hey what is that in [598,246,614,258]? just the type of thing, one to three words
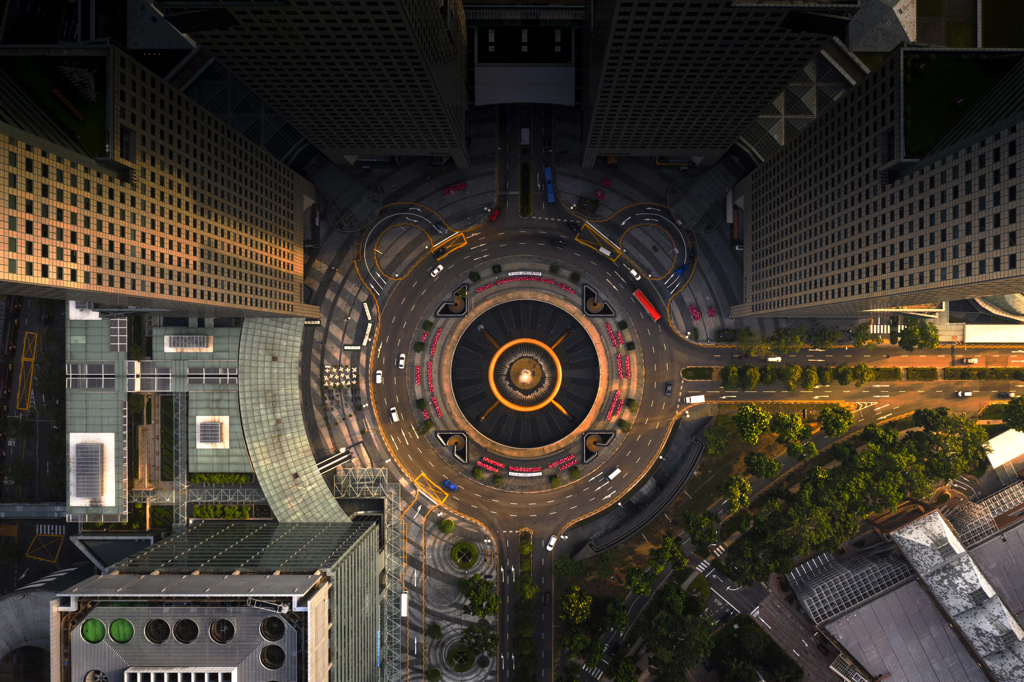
vehicle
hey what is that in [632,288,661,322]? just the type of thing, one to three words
bus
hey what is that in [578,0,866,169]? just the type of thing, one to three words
building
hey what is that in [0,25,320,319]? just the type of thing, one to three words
building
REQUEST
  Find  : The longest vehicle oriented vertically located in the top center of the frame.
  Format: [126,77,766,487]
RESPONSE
[544,165,557,206]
